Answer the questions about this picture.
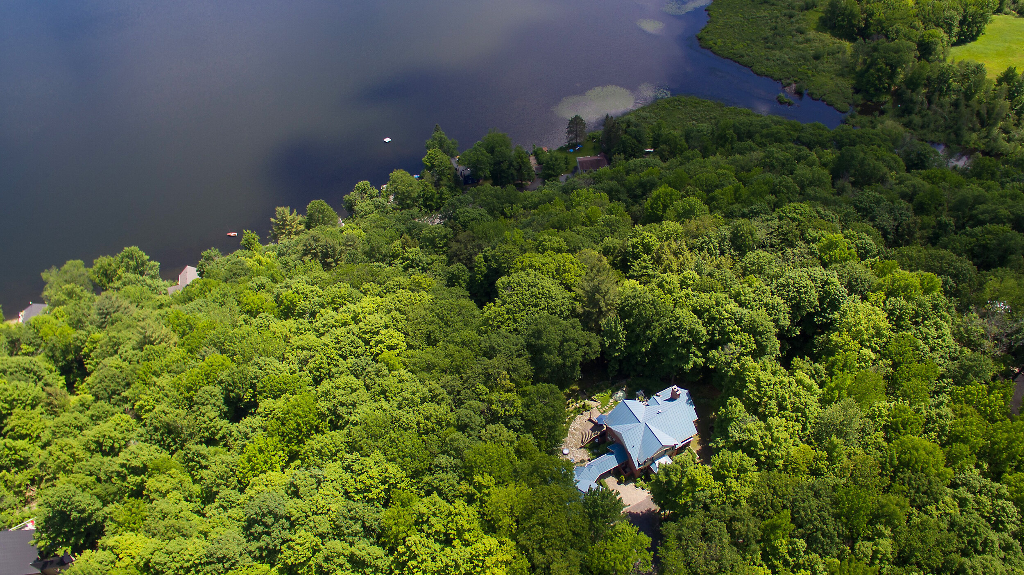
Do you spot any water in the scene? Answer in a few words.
Yes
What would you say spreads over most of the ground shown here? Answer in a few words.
trees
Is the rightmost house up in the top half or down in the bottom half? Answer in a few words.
bottom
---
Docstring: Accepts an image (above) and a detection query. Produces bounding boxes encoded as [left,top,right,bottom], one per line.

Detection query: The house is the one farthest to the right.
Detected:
[603,384,699,481]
